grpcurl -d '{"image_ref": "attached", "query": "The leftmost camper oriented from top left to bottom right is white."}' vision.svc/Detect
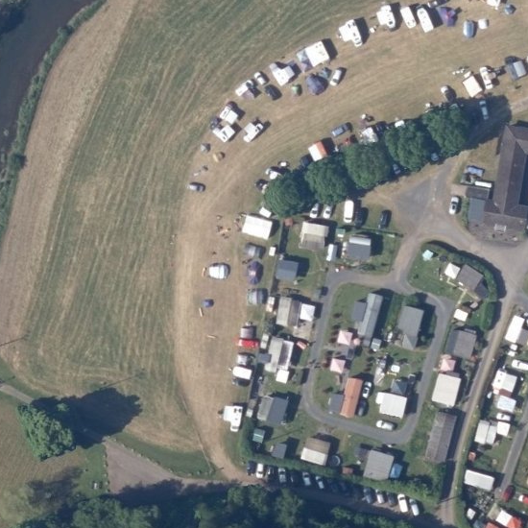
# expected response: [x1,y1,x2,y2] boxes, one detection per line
[213,125,232,143]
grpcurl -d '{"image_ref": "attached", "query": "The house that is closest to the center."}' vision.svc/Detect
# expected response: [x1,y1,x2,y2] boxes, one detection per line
[275,259,299,281]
